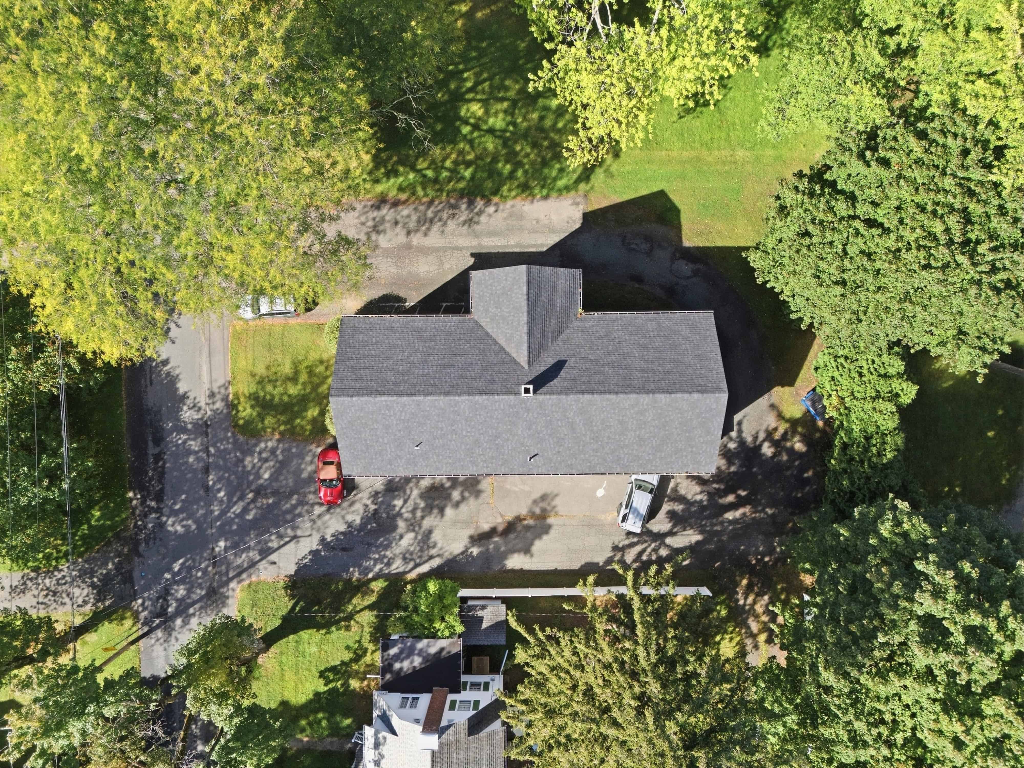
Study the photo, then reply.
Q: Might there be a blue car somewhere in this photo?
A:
No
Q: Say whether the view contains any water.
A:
No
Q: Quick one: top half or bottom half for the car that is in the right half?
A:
bottom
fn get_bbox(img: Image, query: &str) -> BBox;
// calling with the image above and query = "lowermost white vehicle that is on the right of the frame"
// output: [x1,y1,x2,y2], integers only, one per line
[617,476,657,532]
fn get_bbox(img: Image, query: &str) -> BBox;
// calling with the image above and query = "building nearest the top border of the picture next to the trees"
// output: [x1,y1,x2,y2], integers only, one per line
[330,265,730,480]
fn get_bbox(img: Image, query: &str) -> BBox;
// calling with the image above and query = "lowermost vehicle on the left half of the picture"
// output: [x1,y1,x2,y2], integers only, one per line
[316,448,346,503]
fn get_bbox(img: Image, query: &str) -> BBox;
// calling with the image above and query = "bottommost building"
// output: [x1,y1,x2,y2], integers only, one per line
[357,625,511,768]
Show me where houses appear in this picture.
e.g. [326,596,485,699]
[330,265,730,480]
[357,625,511,768]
